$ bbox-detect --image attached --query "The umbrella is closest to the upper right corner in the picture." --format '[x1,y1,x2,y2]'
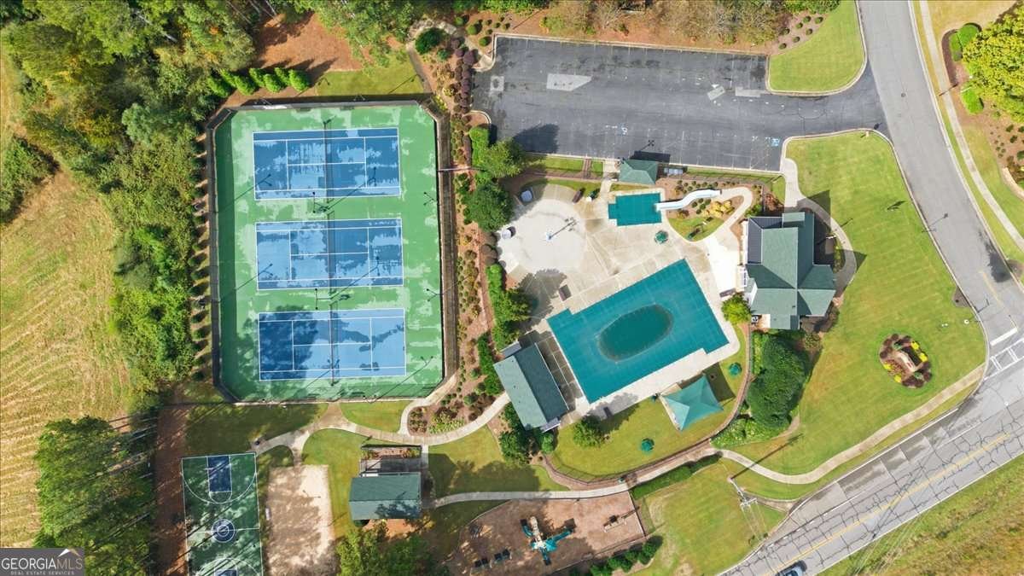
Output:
[654,230,668,244]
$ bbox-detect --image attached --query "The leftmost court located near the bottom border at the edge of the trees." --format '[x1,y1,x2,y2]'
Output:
[181,452,265,576]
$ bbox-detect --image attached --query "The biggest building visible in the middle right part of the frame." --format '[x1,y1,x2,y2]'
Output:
[736,212,838,330]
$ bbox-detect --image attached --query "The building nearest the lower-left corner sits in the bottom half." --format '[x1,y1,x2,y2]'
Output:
[347,473,421,521]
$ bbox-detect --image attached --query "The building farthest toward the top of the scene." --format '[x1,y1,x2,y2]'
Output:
[617,160,658,185]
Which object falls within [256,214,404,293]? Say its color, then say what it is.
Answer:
blue tennis court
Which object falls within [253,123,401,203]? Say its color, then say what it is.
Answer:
blue tennis court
